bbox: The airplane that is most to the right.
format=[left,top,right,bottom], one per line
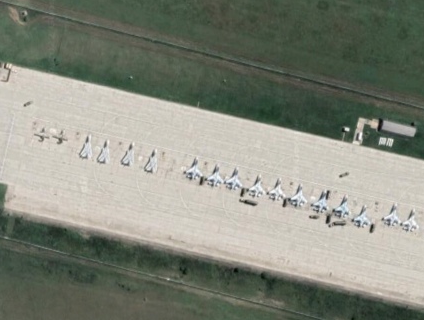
[403,210,419,232]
